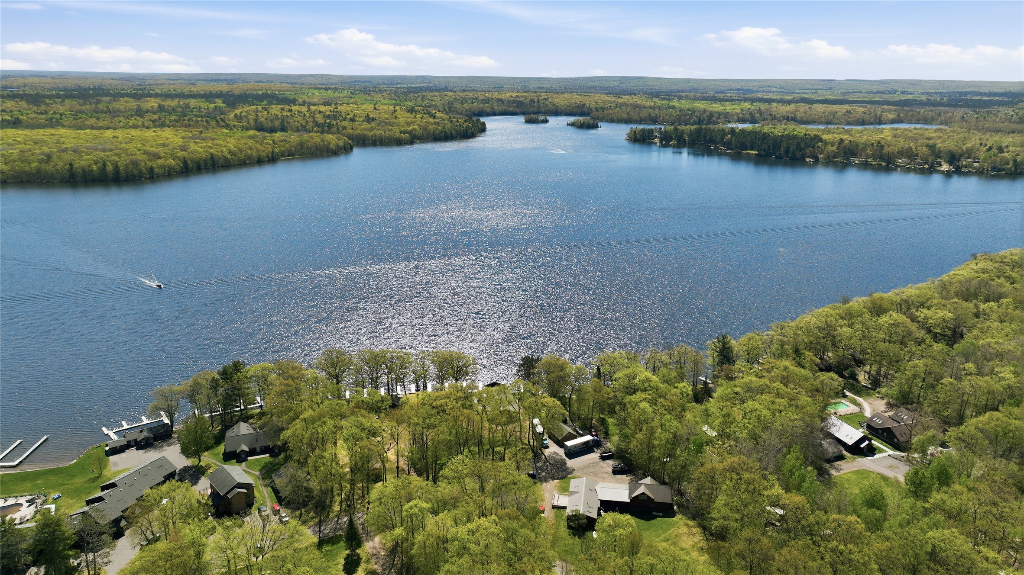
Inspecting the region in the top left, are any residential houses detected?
No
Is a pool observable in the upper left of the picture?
No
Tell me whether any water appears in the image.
Yes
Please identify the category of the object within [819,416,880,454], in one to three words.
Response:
building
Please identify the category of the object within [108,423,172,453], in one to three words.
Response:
house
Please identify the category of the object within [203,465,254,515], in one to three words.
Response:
house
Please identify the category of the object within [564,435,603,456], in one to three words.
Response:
truck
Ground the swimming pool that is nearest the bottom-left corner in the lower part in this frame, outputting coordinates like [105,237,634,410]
[0,497,43,521]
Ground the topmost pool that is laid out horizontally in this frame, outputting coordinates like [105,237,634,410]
[825,399,860,415]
